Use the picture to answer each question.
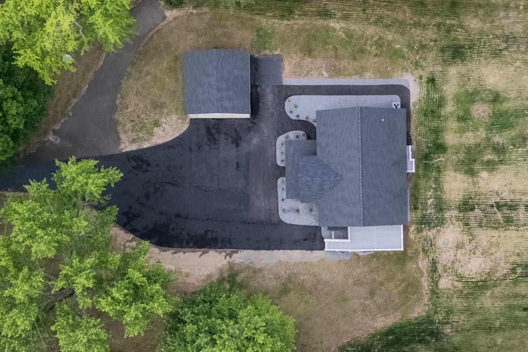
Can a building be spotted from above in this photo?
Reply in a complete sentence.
Yes, looking at the shot, I can spot a building.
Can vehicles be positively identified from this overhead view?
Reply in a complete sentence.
No, there's no vehicle here.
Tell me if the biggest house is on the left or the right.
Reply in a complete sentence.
You can find the biggest house on the right side of the picture.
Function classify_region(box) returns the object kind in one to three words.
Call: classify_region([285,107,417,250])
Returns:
house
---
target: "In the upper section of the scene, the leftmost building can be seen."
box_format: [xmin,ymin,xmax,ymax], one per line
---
[185,48,251,117]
